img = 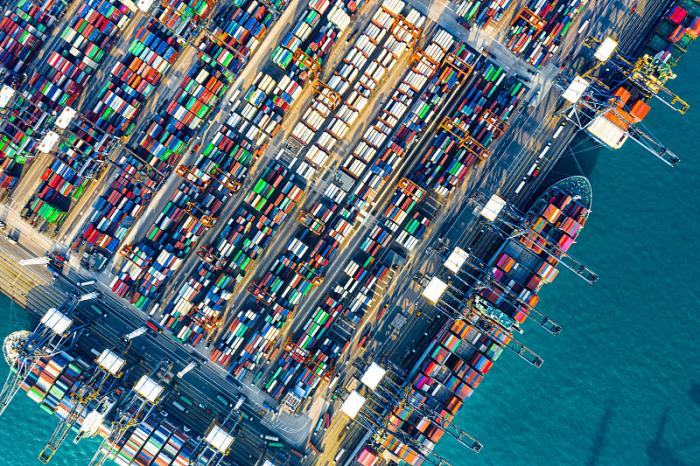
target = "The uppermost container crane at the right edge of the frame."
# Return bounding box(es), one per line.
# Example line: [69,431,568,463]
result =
[567,26,693,111]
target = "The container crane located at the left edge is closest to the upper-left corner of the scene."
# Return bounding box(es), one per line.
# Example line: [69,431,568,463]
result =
[0,79,58,135]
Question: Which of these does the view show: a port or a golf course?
port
